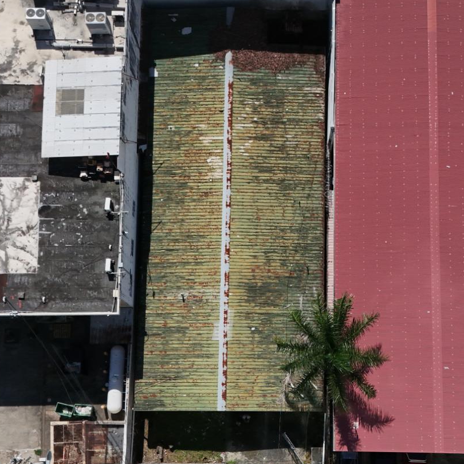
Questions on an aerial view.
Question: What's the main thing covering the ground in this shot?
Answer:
buildings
